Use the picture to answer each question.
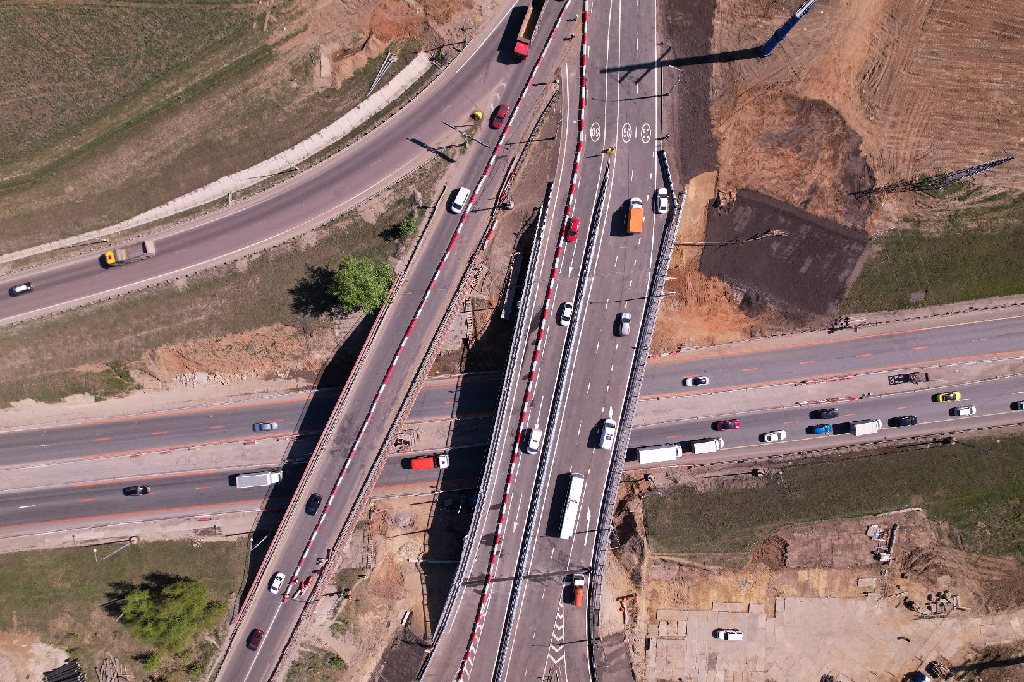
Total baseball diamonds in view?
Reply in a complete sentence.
I count no baseball diamonds.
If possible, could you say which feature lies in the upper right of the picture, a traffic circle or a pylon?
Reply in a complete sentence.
The one visible in the upper right of the picture is a pylon.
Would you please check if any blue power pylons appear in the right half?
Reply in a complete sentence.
No, I can find no blue power pylon in the right half.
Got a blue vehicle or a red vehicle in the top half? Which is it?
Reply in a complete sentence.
There is a red vehicle in the top half.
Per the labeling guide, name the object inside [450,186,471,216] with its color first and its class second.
white vehicle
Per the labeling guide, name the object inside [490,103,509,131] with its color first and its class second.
red car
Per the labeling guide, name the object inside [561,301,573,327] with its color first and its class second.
white vehicle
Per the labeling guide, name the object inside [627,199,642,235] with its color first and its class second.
orange vehicle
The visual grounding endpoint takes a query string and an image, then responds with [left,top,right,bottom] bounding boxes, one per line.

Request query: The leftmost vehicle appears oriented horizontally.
[11,282,35,294]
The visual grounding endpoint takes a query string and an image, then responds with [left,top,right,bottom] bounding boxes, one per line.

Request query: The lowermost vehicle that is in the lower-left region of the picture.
[248,626,264,650]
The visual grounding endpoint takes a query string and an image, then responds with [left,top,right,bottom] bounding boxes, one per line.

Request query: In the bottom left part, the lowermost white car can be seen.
[269,569,286,595]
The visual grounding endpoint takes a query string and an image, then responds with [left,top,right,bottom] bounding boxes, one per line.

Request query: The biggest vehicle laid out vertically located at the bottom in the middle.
[559,468,587,540]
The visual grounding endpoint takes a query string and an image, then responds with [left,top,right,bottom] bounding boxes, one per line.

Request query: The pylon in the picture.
[932,152,1018,189]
